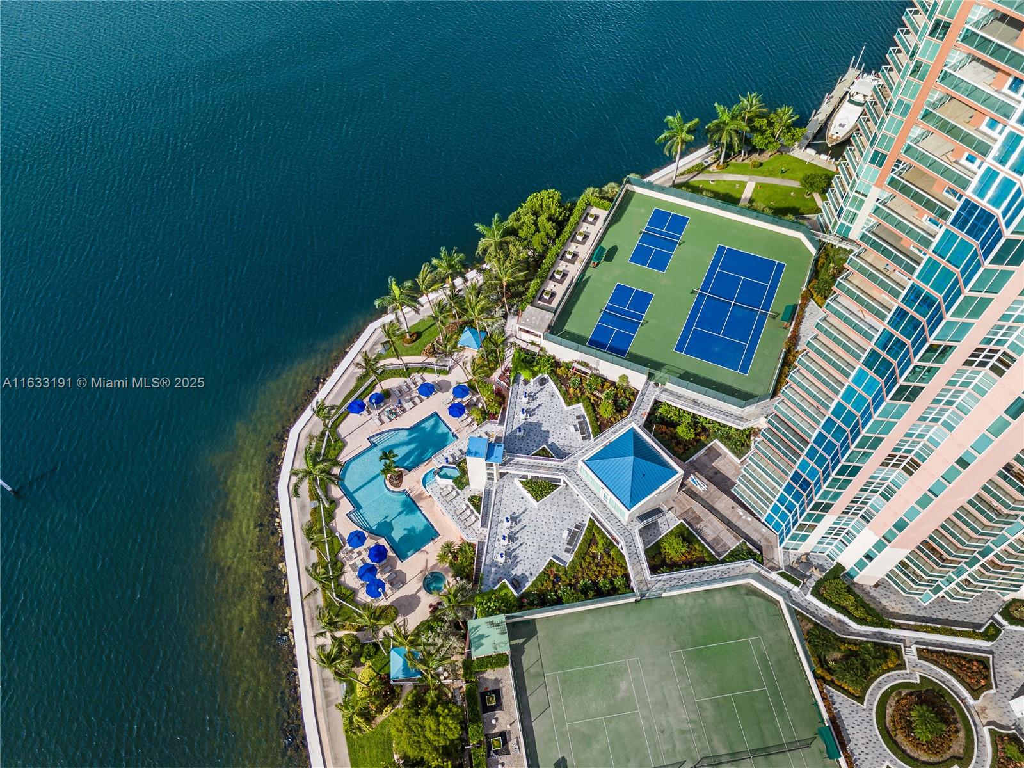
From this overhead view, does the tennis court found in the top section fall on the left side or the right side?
right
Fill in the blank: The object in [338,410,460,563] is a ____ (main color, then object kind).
blue swimming pool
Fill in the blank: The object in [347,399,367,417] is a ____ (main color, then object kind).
blue umbrella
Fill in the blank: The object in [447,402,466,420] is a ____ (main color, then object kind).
blue umbrella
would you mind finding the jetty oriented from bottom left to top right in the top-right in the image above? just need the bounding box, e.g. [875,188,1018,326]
[799,68,859,149]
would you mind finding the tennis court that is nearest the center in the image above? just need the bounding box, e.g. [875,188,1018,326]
[543,193,812,400]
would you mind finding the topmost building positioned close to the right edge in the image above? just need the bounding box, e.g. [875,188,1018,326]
[731,0,1024,606]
